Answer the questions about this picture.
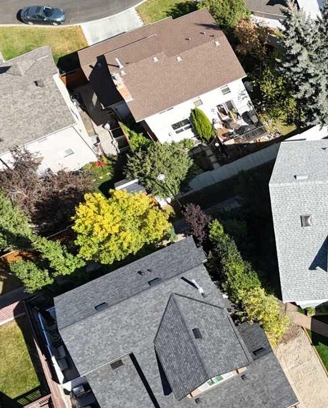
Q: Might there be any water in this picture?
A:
No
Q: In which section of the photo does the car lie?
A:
top left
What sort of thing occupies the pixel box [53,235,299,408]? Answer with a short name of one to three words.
house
